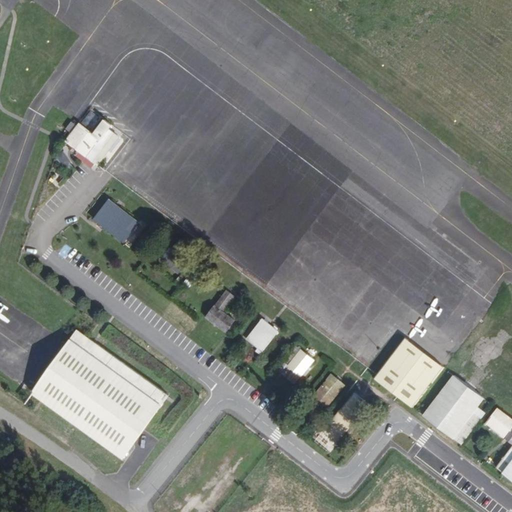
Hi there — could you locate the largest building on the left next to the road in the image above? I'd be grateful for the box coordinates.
[32,330,168,459]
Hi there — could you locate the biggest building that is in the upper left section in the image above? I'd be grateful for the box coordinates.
[66,110,124,168]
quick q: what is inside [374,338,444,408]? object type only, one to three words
hangar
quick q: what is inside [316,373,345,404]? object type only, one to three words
house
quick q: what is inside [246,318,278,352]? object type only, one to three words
house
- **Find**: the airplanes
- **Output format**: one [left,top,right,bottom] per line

[426,298,442,318]
[0,306,10,322]
[410,318,426,338]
